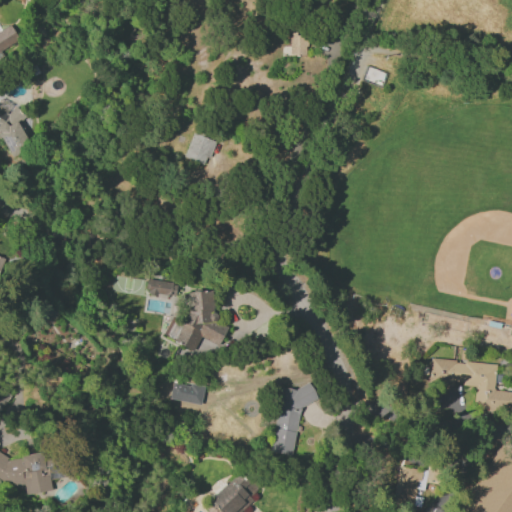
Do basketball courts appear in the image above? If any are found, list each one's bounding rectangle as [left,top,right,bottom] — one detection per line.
[114,276,146,296]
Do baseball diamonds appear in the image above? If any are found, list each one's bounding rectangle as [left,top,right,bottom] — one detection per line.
[324,97,512,330]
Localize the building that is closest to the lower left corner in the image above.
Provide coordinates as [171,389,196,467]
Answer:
[0,450,52,496]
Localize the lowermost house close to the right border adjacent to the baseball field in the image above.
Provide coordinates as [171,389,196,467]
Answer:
[426,360,512,412]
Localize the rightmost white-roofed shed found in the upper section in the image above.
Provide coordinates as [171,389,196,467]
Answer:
[364,64,389,86]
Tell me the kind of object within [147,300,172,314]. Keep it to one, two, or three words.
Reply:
swimming pool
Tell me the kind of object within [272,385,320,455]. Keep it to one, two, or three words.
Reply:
house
